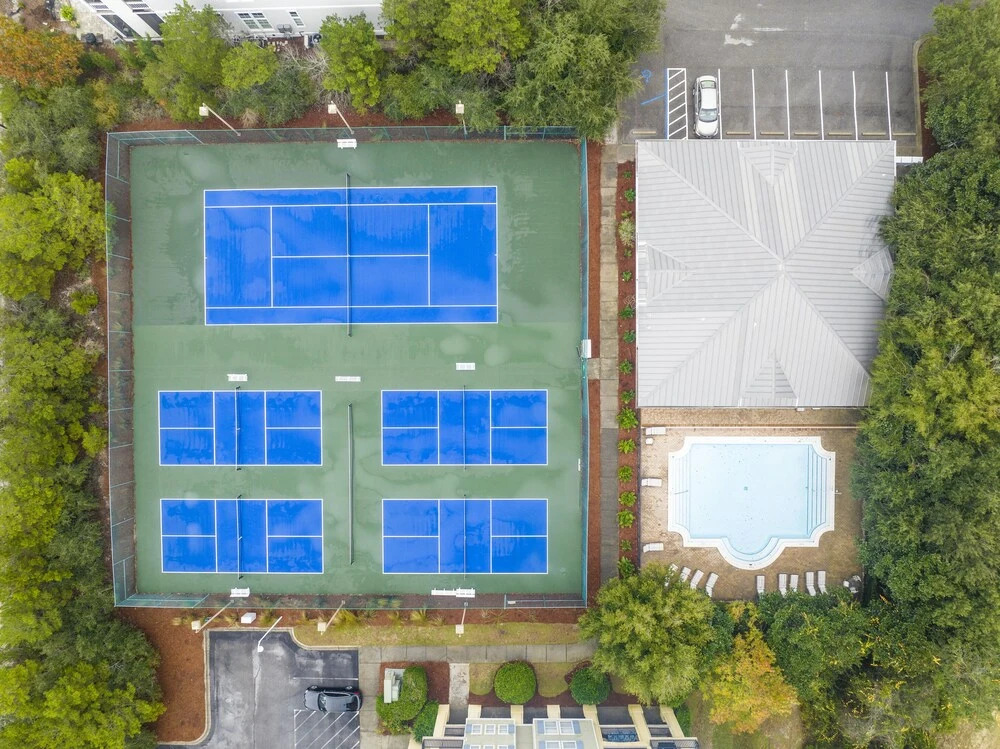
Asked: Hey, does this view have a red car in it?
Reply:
No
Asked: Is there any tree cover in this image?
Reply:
Yes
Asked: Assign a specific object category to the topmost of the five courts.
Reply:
tennis court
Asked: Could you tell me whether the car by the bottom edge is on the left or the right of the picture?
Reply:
left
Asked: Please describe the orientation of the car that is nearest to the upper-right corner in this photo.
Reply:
from top to bottom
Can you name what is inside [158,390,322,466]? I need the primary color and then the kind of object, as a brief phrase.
blue sports court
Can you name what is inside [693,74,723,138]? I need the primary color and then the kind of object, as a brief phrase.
white car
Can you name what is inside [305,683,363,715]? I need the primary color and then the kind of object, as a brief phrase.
gray car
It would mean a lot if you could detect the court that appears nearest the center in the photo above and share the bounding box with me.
[382,389,548,466]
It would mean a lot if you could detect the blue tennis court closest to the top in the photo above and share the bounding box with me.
[203,186,499,326]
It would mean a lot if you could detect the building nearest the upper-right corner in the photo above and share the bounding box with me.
[635,140,899,414]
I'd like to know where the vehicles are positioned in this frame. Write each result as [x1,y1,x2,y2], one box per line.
[305,683,363,715]
[693,74,723,138]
